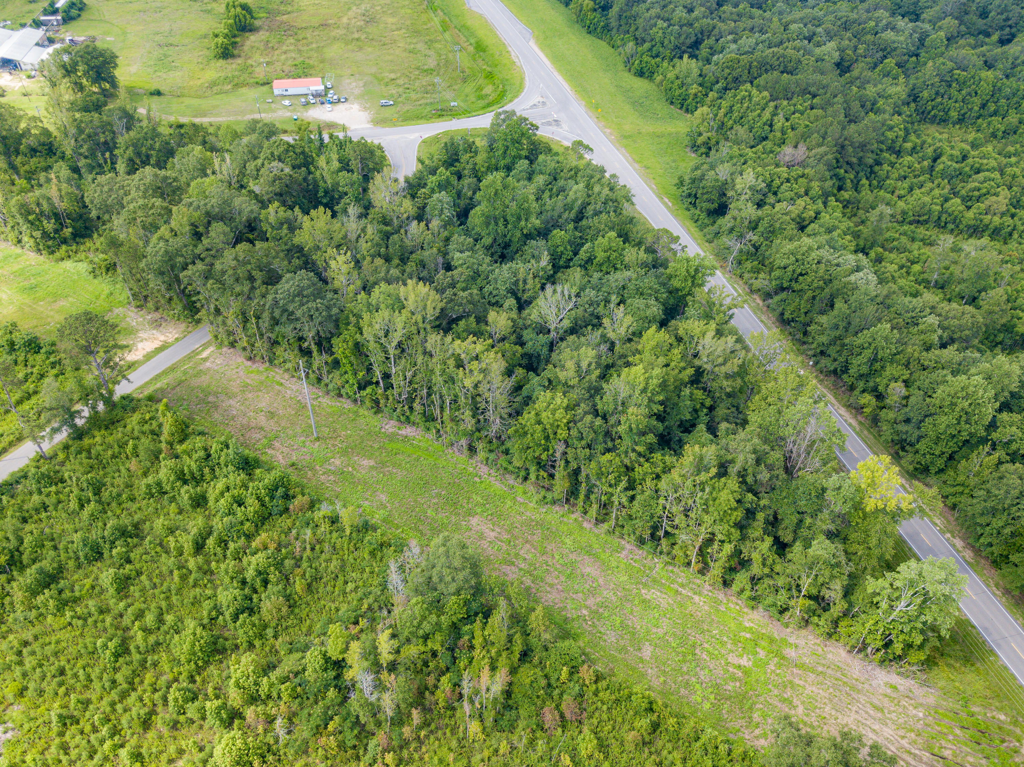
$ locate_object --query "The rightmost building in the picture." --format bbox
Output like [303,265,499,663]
[272,81,326,100]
